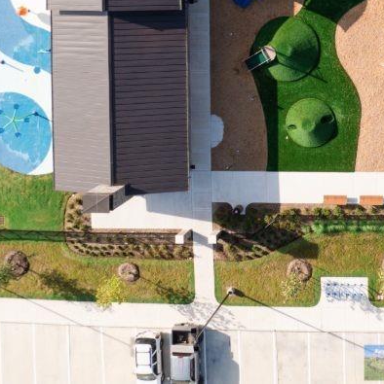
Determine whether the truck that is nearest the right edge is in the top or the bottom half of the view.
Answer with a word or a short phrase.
bottom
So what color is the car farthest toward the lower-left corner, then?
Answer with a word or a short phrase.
white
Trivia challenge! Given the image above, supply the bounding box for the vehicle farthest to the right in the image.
[169,326,204,384]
